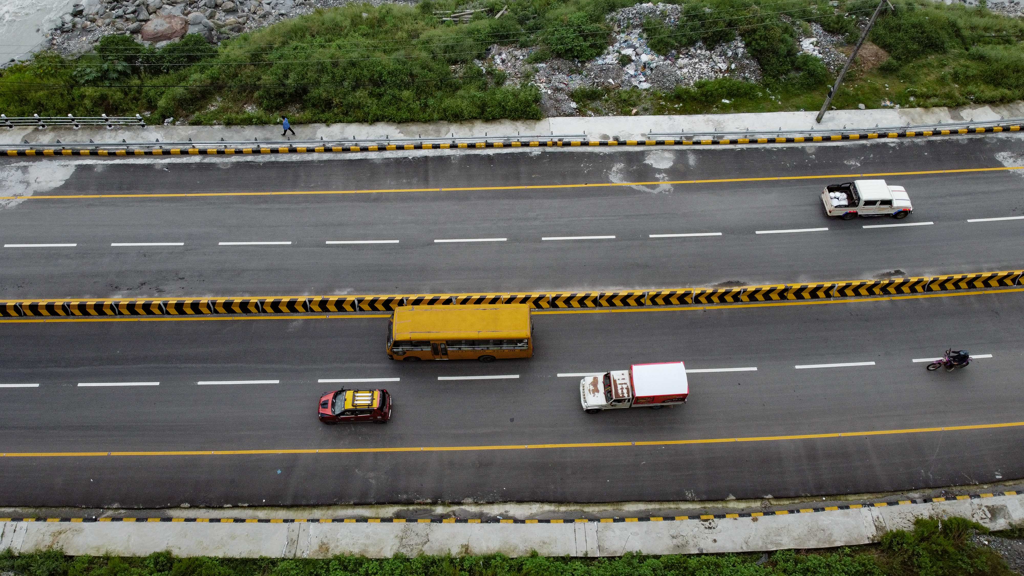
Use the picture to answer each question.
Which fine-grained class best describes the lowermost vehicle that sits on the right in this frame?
truck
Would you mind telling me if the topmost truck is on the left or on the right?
right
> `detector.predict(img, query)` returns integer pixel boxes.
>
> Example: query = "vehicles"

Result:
[383,304,536,362]
[815,179,916,219]
[315,381,395,426]
[578,361,690,413]
[925,349,977,371]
